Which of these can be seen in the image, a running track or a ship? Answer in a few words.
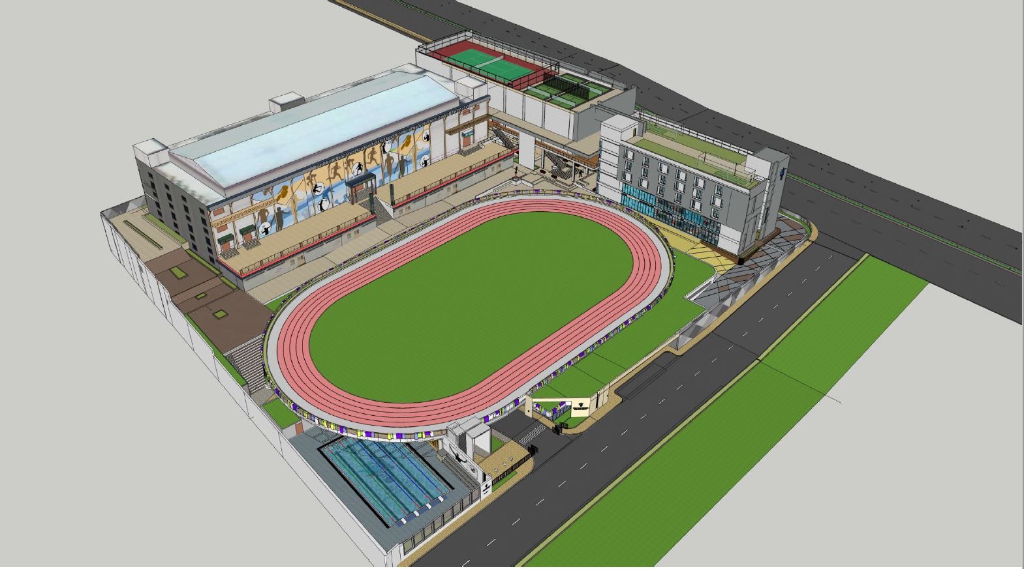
running track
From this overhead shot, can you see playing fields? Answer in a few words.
Yes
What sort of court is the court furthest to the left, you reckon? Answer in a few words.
tennis court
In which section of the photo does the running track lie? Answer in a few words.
center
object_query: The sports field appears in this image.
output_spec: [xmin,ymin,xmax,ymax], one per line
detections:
[309,211,632,402]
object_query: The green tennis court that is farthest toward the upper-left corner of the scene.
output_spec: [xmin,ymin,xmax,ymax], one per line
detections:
[425,38,557,90]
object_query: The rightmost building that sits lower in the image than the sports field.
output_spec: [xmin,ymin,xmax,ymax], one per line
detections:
[446,415,493,462]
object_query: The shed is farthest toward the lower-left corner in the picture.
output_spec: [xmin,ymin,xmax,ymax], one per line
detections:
[262,398,303,438]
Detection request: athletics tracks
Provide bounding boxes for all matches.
[276,198,660,427]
